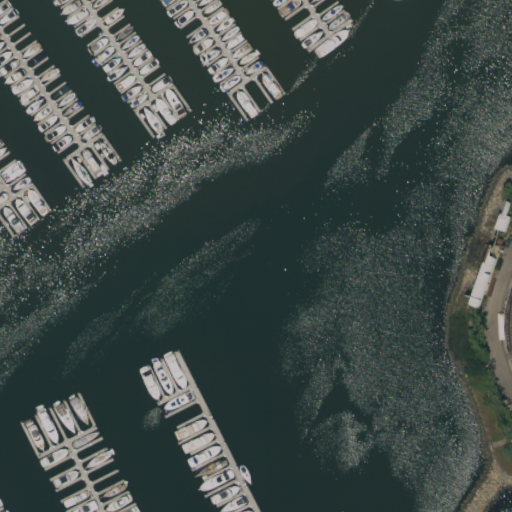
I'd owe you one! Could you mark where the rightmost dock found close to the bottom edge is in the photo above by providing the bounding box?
[154,351,260,512]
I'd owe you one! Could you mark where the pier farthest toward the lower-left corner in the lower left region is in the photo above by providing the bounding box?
[21,394,136,512]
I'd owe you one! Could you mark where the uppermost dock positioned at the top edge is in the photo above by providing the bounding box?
[282,0,351,52]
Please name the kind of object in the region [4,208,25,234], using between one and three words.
boat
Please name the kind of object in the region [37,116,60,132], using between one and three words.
boat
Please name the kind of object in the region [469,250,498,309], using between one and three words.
building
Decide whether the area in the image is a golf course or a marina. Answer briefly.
marina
